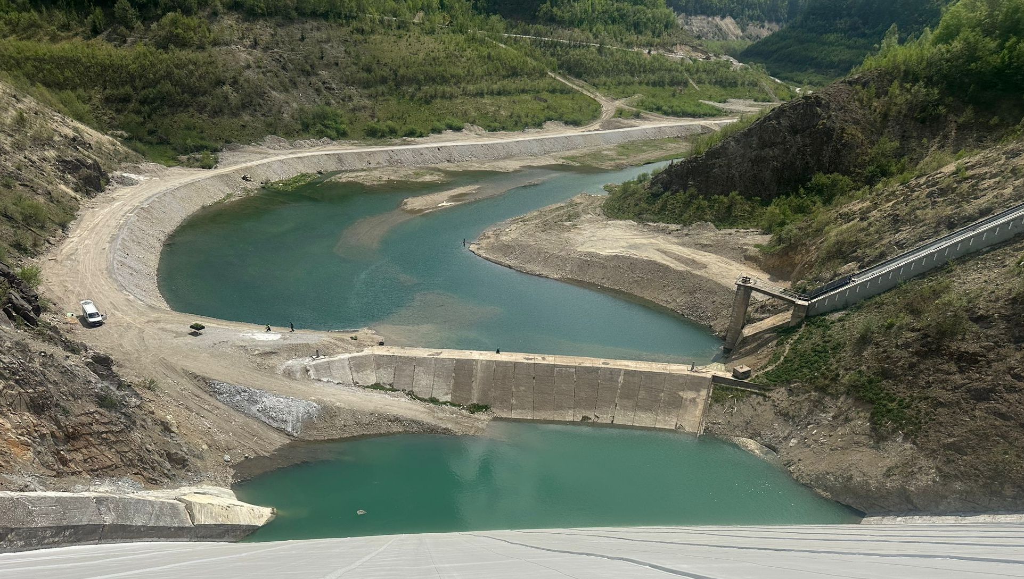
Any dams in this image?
Yes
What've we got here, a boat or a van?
van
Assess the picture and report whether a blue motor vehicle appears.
No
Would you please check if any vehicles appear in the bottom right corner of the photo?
No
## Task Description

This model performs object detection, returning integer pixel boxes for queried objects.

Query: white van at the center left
[77,298,108,327]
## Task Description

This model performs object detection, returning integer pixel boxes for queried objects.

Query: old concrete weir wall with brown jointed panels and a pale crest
[311,346,713,435]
